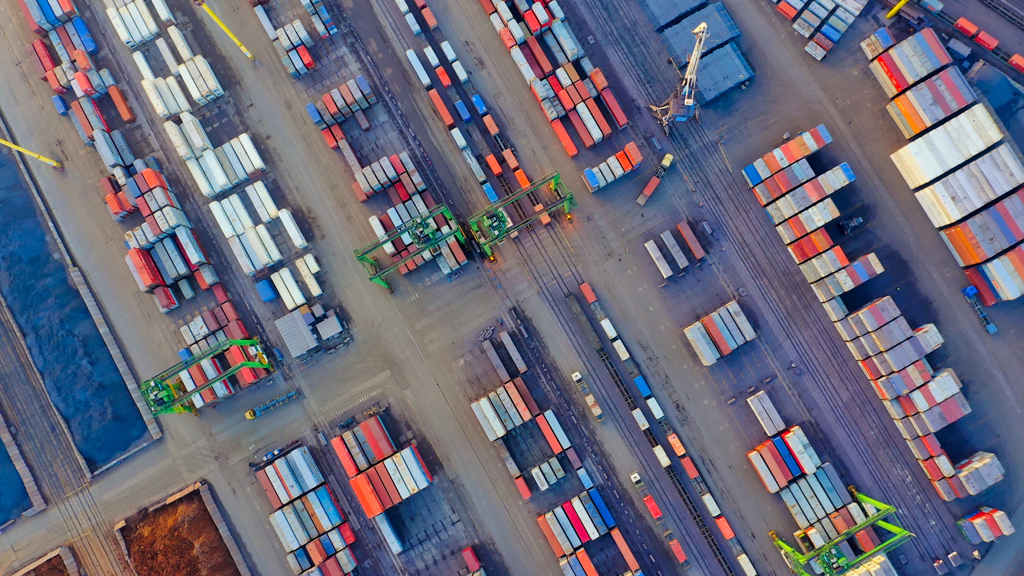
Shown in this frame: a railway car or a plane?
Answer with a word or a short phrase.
railway car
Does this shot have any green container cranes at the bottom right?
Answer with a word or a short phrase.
Yes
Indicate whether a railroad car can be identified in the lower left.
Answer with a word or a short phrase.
No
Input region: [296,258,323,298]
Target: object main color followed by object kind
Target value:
white shipping container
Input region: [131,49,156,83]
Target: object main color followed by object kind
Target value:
white shipping container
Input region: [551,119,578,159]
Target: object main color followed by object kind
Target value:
red shipping container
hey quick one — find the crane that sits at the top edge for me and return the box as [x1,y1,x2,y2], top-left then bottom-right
[644,21,710,140]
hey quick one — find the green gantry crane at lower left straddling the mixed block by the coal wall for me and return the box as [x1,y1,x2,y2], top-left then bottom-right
[137,330,278,419]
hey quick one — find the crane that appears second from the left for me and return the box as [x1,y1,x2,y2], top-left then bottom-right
[353,199,473,296]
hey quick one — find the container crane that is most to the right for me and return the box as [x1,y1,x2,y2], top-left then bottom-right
[771,483,914,576]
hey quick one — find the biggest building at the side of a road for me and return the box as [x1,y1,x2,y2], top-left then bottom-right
[275,309,320,358]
